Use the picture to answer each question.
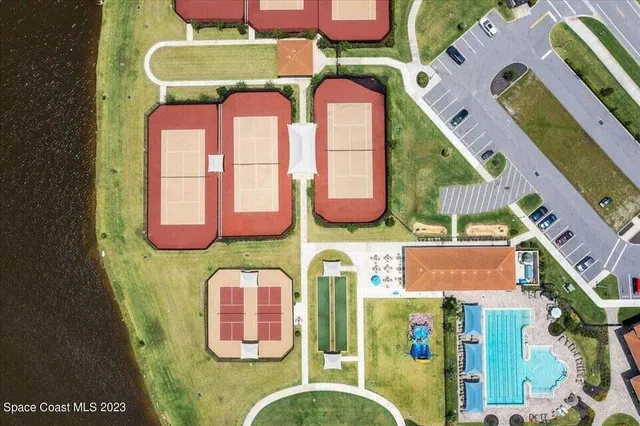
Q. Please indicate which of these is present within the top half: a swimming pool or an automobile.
automobile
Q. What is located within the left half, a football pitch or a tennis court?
tennis court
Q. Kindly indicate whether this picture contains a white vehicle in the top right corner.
Yes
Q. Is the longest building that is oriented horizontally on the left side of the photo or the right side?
right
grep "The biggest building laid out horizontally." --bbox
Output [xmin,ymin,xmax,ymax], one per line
[405,246,516,291]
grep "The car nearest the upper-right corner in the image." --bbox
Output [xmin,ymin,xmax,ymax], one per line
[481,18,498,37]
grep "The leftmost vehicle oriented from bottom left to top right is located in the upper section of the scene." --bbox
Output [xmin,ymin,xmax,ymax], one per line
[451,110,468,126]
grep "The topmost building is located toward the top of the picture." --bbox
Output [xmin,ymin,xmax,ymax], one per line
[278,39,313,76]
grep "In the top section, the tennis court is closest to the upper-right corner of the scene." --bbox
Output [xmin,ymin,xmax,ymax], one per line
[319,0,390,40]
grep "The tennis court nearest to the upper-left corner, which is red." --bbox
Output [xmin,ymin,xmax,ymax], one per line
[176,0,244,22]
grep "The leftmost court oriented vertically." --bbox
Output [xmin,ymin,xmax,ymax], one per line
[149,104,218,248]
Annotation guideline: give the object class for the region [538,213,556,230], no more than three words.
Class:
car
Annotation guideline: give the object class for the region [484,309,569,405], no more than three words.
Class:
swimming pool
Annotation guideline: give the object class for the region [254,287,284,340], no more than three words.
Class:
sports court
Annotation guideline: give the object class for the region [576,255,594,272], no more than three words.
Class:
car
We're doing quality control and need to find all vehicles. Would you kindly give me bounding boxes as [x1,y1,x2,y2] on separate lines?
[529,205,548,222]
[576,255,594,272]
[633,277,640,295]
[448,46,464,64]
[538,213,556,230]
[451,110,468,126]
[598,195,613,208]
[481,18,498,37]
[556,230,574,246]
[480,148,494,162]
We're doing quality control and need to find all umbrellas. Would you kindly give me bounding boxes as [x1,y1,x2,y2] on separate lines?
[549,307,561,318]
[371,275,381,285]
